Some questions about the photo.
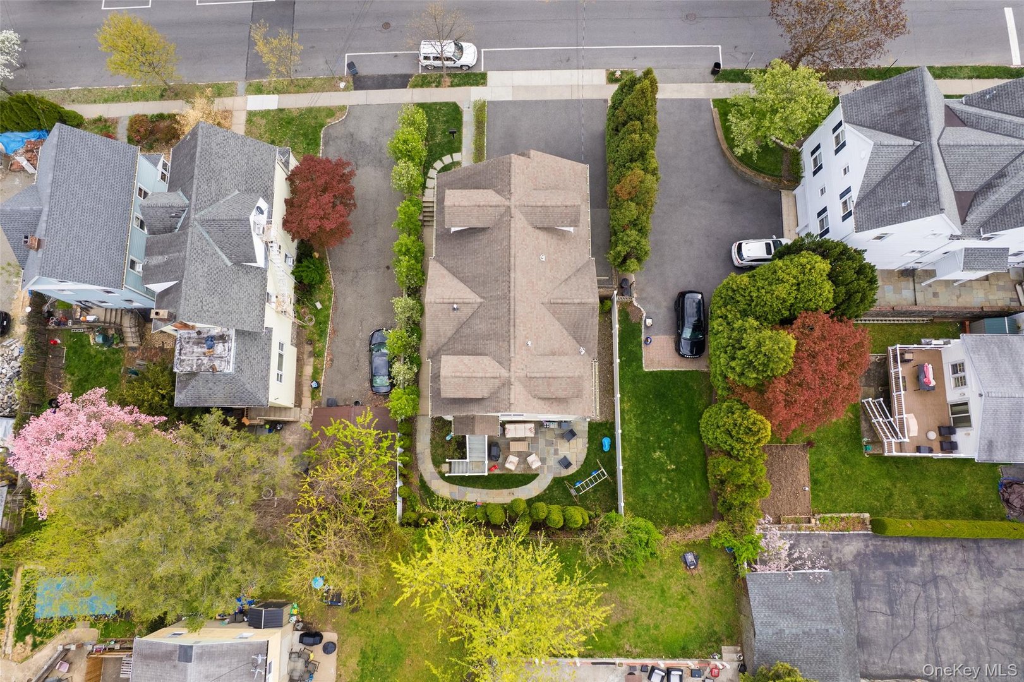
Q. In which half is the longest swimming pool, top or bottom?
bottom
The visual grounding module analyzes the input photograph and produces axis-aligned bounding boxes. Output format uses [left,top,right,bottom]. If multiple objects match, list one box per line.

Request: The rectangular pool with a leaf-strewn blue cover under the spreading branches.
[34,575,117,620]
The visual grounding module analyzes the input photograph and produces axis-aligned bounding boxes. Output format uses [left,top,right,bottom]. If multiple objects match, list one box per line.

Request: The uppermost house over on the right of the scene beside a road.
[794,66,1024,287]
